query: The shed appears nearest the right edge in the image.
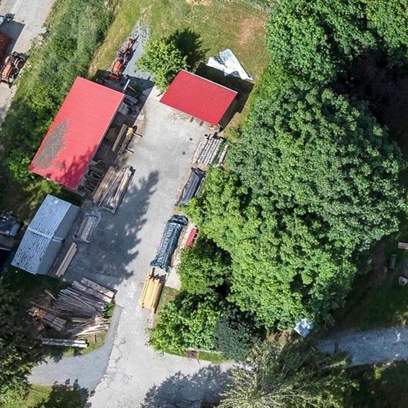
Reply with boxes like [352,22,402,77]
[159,70,242,125]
